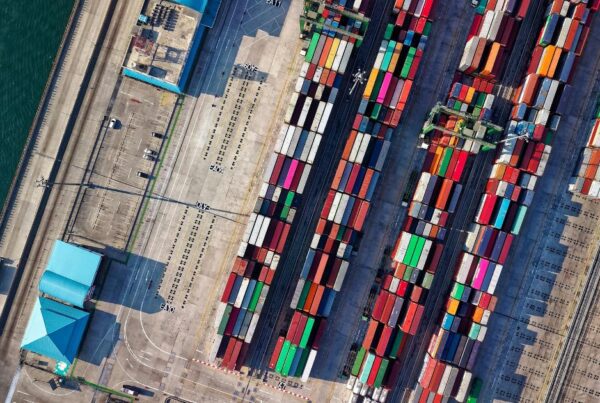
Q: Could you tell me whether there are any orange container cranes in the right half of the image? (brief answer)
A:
No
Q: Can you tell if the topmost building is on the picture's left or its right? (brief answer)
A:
left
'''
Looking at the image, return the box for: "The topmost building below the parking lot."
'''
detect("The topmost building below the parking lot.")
[38,239,111,308]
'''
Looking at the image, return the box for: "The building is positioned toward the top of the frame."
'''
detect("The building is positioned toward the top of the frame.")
[124,0,222,95]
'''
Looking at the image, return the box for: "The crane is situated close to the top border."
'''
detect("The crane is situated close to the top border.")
[299,0,373,60]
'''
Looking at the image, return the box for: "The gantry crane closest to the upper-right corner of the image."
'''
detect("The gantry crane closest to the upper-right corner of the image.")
[412,103,504,159]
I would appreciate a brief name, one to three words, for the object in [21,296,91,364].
building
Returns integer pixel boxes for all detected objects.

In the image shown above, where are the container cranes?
[299,0,373,60]
[412,103,504,159]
